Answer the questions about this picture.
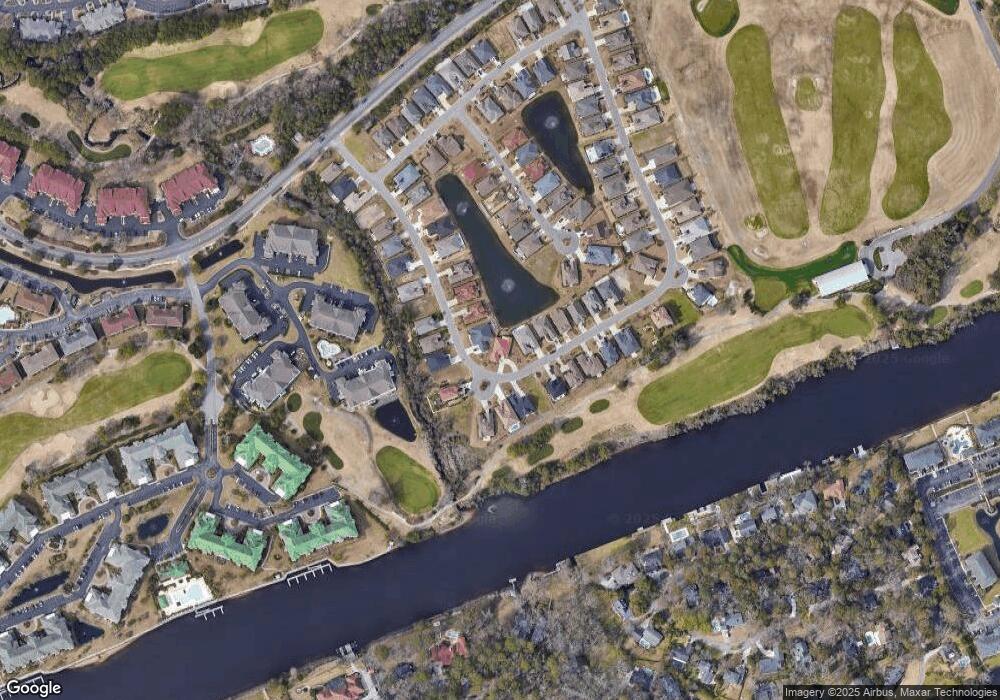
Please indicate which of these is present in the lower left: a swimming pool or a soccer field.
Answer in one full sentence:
There is a swimming pool in the lower left.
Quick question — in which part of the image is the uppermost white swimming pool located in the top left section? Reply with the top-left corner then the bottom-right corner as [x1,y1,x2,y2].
[252,138,275,155]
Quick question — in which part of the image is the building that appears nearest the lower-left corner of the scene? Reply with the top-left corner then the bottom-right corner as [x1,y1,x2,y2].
[0,618,73,673]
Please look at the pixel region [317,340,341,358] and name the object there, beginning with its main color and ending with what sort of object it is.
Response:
white swimming pool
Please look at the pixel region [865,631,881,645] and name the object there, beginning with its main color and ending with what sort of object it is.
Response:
white swimming pool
